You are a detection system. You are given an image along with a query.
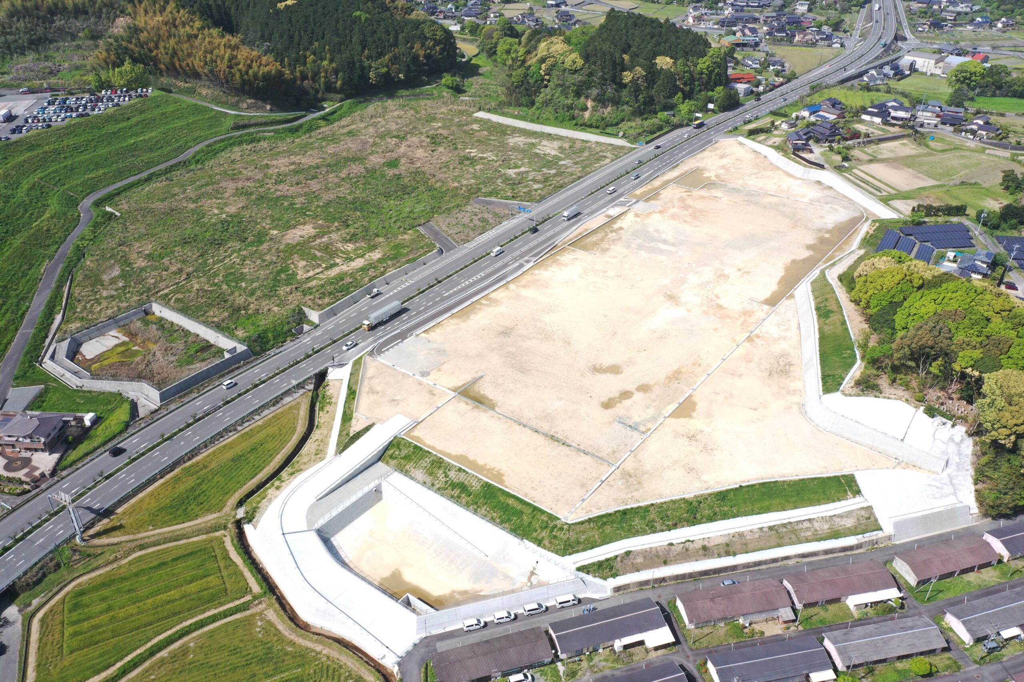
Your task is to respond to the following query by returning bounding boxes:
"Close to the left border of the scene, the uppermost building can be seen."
[0,409,81,455]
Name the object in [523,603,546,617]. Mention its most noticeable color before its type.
white vehicle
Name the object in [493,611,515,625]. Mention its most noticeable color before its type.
white vehicle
